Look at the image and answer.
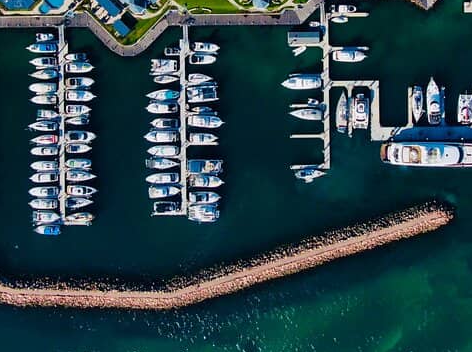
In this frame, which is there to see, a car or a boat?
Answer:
boat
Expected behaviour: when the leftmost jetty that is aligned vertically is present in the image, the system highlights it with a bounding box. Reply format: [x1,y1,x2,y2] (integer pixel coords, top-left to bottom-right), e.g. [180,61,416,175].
[35,26,92,225]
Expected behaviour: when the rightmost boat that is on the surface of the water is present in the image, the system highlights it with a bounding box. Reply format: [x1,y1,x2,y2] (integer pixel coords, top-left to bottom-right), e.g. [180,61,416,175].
[458,95,472,123]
